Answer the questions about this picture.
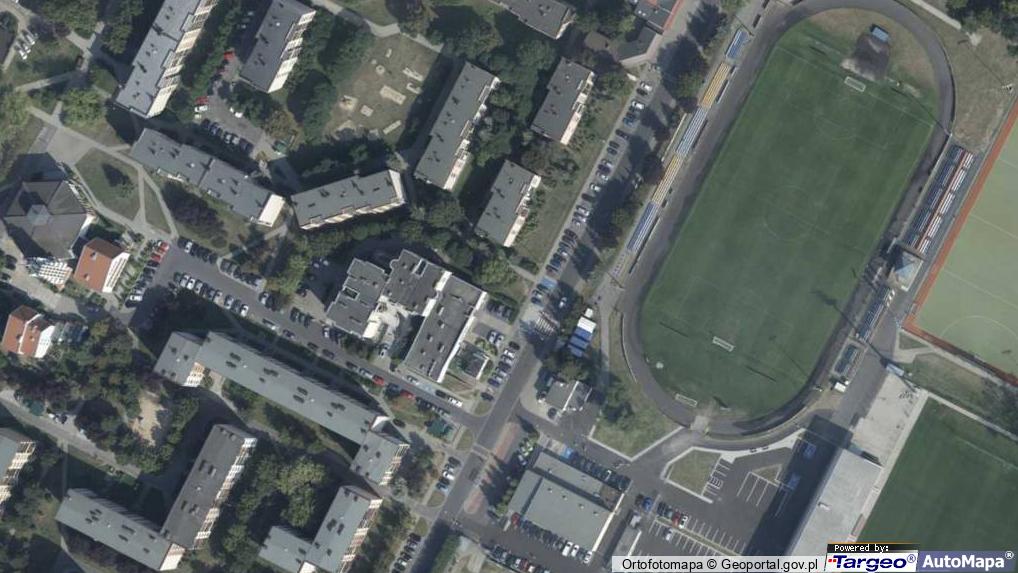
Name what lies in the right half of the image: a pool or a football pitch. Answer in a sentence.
There is a football pitch in the right half of the image.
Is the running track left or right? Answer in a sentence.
You can find the running track on the right side of the picture.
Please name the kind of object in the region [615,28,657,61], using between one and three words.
shed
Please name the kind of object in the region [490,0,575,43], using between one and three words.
building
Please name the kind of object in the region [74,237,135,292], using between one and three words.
house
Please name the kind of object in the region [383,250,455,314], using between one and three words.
building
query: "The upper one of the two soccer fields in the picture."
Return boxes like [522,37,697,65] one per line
[641,8,939,424]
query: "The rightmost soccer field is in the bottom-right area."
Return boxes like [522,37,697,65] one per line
[843,398,1018,573]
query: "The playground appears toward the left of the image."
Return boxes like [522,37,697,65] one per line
[130,392,166,441]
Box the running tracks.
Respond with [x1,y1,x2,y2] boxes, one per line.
[621,0,955,435]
